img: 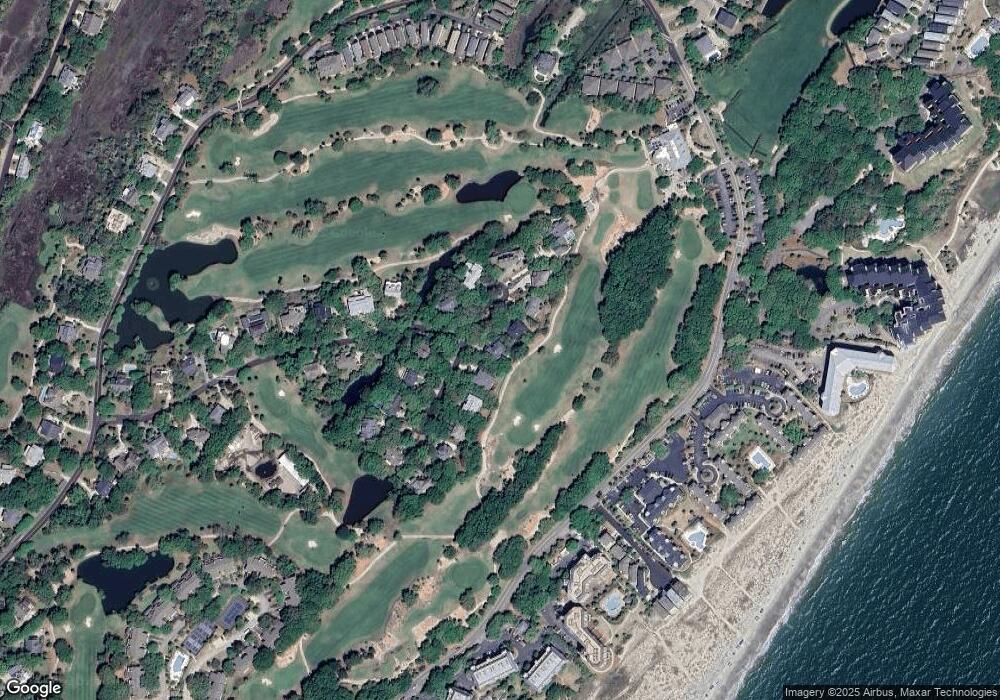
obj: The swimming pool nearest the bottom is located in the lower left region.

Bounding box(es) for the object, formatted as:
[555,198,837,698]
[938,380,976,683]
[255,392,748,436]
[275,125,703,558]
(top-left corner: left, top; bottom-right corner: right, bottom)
[170,652,189,681]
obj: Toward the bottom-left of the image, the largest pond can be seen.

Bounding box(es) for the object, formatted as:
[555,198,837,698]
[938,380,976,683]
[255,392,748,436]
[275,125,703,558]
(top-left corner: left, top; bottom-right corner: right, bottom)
[77,552,175,615]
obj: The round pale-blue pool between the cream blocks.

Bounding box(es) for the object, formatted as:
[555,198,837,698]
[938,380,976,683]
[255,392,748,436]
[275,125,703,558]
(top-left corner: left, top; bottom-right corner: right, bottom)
[603,589,623,614]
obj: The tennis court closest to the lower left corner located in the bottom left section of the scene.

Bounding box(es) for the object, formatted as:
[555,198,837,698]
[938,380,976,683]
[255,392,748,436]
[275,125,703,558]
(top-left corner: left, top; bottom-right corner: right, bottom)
[182,622,216,653]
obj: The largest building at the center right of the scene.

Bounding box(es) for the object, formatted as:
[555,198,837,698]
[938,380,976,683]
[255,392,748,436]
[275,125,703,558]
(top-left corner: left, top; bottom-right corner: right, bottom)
[849,259,951,347]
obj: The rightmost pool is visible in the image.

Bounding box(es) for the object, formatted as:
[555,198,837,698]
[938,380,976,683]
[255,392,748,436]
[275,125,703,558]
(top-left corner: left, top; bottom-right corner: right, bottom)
[966,29,991,59]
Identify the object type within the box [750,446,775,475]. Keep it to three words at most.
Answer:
swimming pool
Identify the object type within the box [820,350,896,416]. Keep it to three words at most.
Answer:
building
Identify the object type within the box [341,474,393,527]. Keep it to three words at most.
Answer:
pond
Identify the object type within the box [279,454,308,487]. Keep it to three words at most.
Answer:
shed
